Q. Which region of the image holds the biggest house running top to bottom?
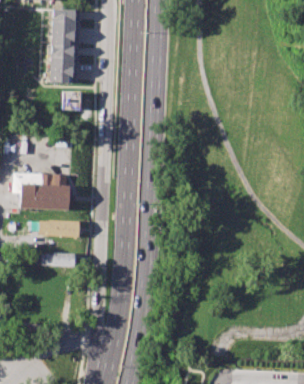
top left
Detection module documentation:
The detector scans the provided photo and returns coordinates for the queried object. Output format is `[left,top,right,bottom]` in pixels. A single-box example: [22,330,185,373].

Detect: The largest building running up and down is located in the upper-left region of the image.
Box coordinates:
[50,8,76,82]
